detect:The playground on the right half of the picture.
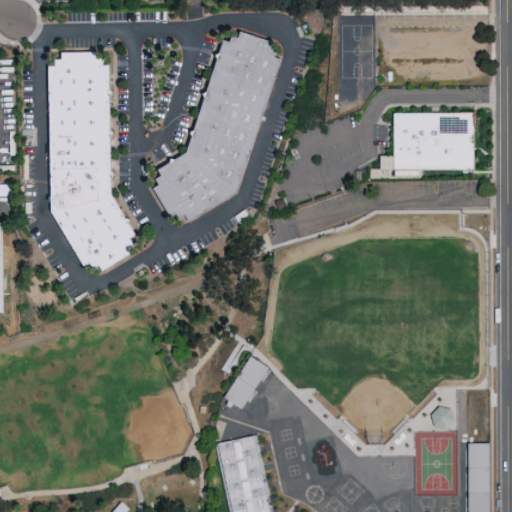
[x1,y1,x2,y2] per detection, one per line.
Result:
[312,440,337,475]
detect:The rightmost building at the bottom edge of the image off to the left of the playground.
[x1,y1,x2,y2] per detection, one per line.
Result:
[218,436,272,512]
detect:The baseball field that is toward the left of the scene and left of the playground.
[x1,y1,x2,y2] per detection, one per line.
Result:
[0,319,194,492]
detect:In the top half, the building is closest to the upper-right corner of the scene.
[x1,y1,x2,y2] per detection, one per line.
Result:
[394,112,475,170]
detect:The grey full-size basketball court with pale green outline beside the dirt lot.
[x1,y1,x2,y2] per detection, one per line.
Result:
[340,15,376,103]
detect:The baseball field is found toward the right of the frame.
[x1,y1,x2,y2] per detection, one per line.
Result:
[263,213,486,444]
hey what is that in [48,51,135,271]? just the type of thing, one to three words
building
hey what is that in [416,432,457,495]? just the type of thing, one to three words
basketball court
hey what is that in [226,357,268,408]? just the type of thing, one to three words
building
